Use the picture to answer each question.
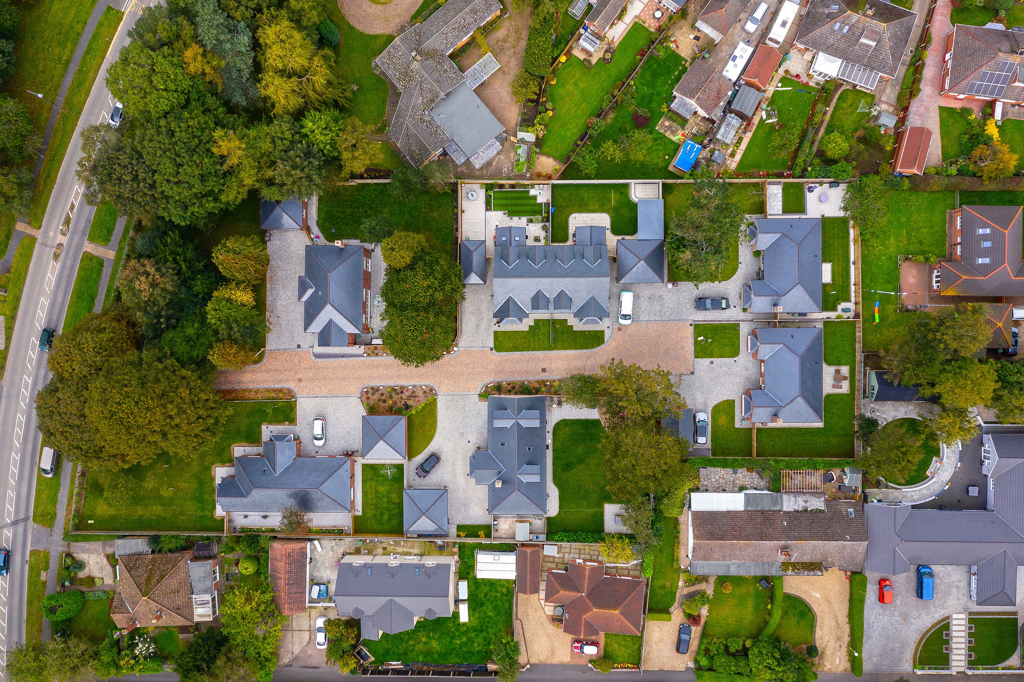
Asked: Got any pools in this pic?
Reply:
Yes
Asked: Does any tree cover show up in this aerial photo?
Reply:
Yes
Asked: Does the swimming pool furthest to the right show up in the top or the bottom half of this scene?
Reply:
top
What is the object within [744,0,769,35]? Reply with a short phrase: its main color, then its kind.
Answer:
white car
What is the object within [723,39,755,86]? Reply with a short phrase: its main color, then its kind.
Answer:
white camper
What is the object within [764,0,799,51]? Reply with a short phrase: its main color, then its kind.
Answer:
white camper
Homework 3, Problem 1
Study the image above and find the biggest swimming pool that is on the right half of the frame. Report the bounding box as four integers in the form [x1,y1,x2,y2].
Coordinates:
[673,139,702,172]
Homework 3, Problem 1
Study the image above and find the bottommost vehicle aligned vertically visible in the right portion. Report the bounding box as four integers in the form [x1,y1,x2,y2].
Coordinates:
[676,623,693,655]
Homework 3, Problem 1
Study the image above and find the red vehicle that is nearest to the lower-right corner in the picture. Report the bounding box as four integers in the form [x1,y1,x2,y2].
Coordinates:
[878,577,894,604]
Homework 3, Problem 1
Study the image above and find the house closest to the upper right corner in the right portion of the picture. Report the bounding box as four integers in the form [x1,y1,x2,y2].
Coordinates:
[940,22,1024,105]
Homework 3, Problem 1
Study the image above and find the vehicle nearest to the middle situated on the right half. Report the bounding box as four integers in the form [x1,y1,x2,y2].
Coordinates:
[617,291,634,325]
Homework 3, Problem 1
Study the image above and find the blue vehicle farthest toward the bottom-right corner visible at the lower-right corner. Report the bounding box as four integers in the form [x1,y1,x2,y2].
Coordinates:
[915,566,934,601]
